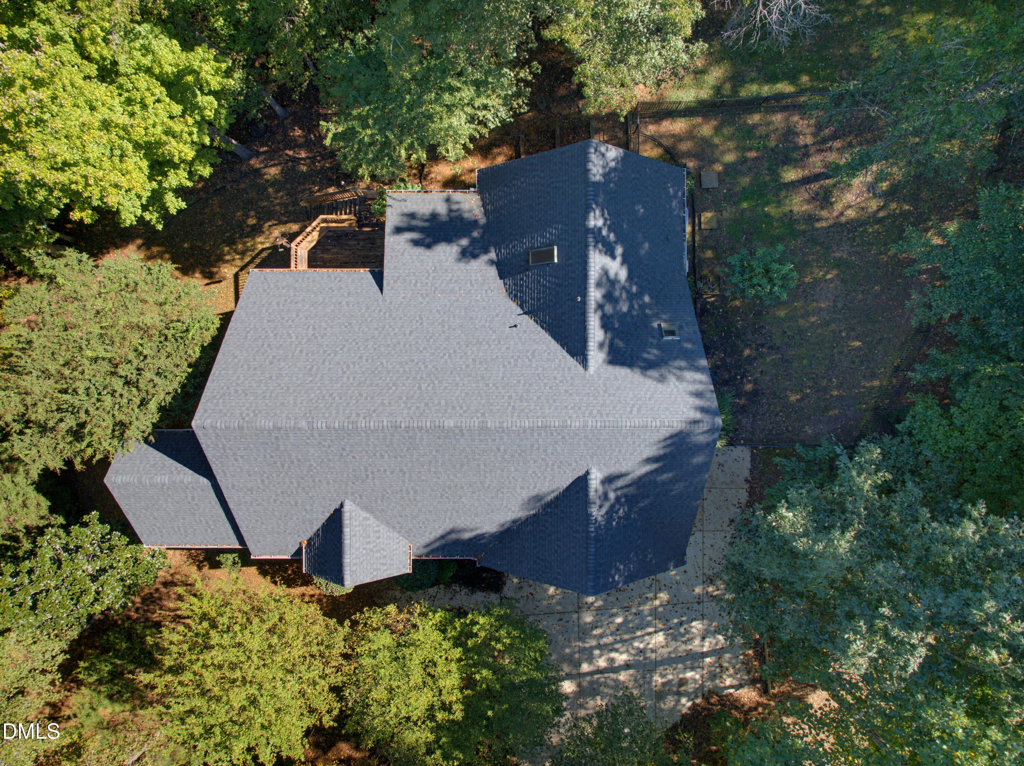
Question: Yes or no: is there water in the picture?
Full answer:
No, there is no water in the image.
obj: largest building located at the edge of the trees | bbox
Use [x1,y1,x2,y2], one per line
[105,139,722,596]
